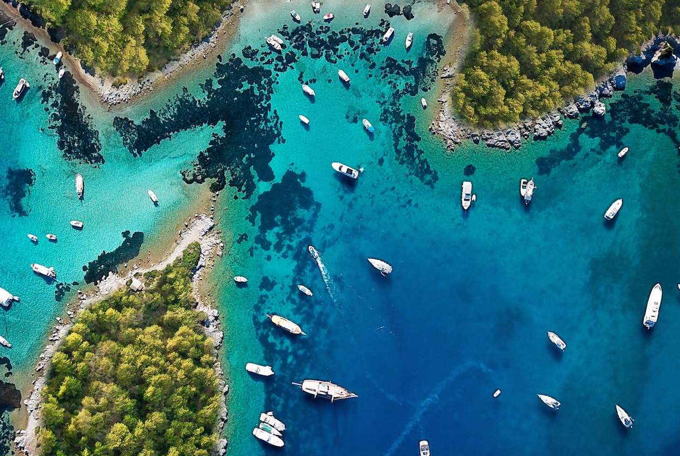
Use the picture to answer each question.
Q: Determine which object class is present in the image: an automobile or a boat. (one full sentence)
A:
Looking from above, you can make out a boat.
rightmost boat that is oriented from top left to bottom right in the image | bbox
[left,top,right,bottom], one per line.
[617,406,633,428]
